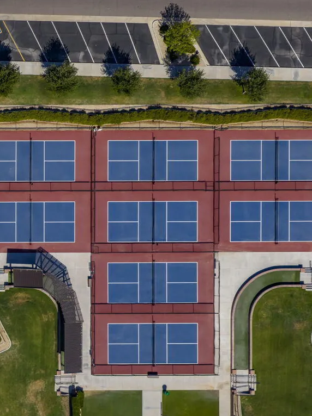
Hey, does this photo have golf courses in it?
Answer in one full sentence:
No, there isn't any golf course down there.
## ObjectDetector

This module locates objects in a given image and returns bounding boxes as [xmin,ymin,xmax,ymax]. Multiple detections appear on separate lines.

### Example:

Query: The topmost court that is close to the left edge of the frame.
[0,130,93,189]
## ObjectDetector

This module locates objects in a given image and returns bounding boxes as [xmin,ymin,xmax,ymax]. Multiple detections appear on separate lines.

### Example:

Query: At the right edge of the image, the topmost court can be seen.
[216,130,312,190]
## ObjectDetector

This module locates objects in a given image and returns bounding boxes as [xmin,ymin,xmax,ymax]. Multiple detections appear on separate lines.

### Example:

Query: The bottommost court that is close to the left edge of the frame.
[0,190,93,252]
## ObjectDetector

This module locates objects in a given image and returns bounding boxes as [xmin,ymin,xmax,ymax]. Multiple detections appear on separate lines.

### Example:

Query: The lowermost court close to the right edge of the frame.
[216,190,312,252]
